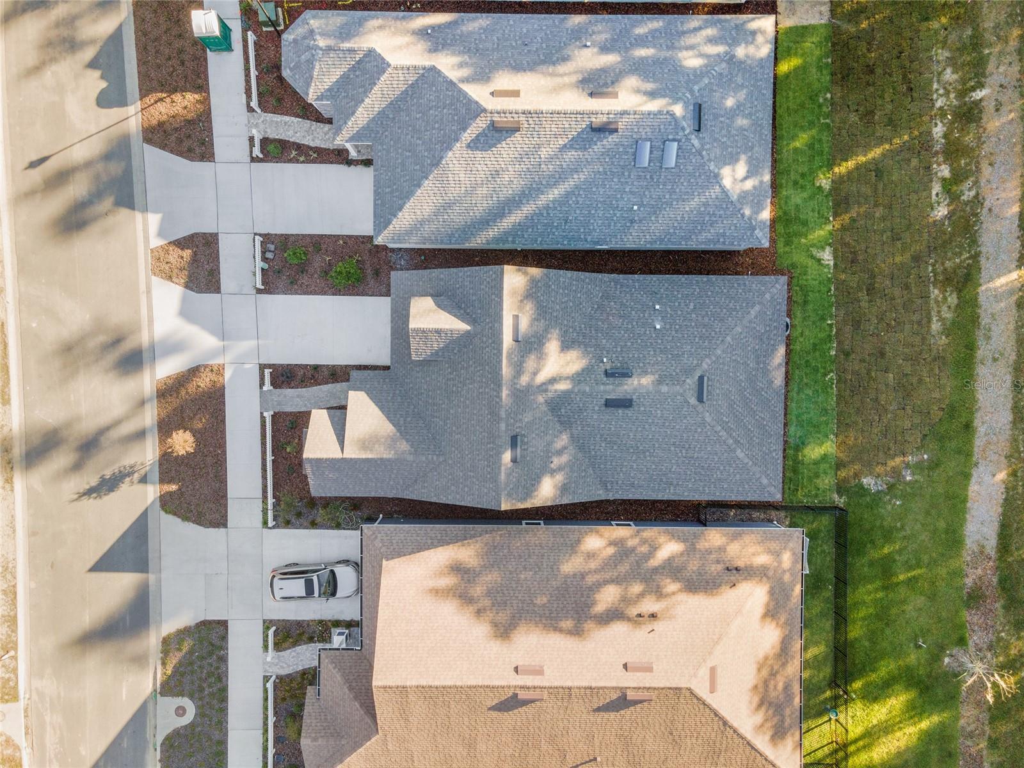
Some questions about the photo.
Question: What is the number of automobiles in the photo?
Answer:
one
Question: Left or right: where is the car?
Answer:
left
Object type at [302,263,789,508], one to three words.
house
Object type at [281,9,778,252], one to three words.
house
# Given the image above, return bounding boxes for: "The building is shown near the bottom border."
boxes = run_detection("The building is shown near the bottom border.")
[300,514,808,768]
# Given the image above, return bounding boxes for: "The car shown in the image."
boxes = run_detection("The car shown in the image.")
[268,563,358,606]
